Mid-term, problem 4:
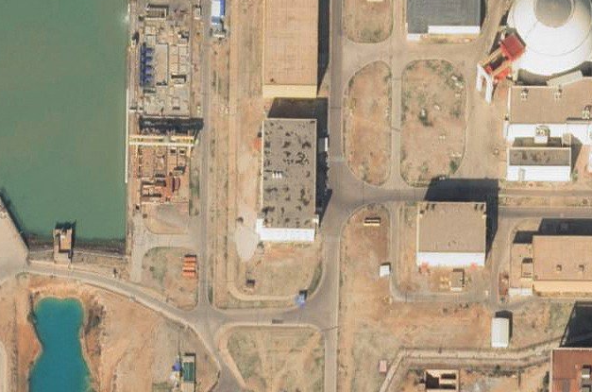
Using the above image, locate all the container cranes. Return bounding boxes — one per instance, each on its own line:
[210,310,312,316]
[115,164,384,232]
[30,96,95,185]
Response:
[476,34,524,103]
[129,135,197,164]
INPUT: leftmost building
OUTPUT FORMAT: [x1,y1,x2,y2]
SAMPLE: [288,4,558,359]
[53,228,72,261]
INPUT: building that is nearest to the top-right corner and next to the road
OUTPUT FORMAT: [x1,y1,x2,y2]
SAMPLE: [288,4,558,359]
[505,0,592,87]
